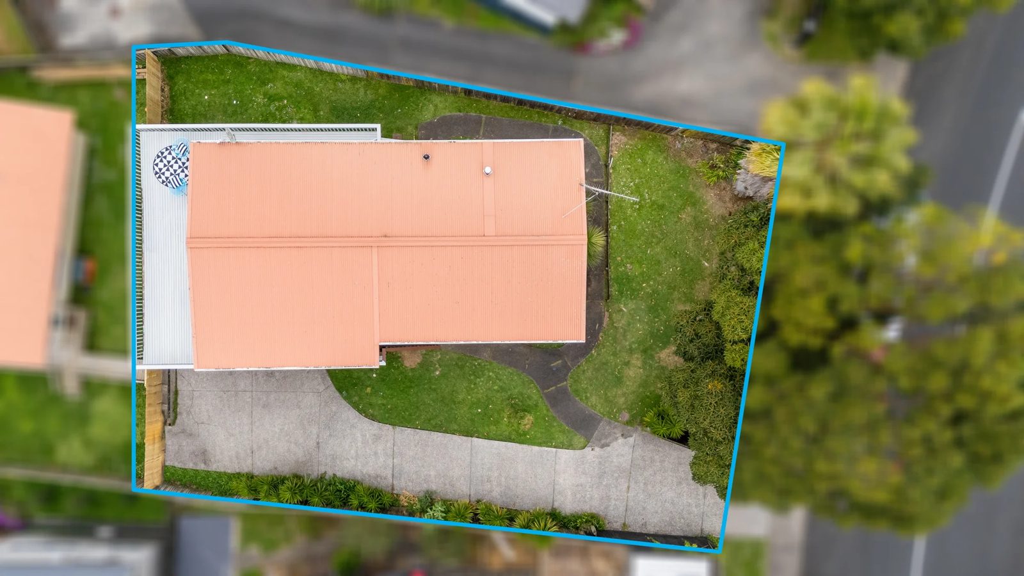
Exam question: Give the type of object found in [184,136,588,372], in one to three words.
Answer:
house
